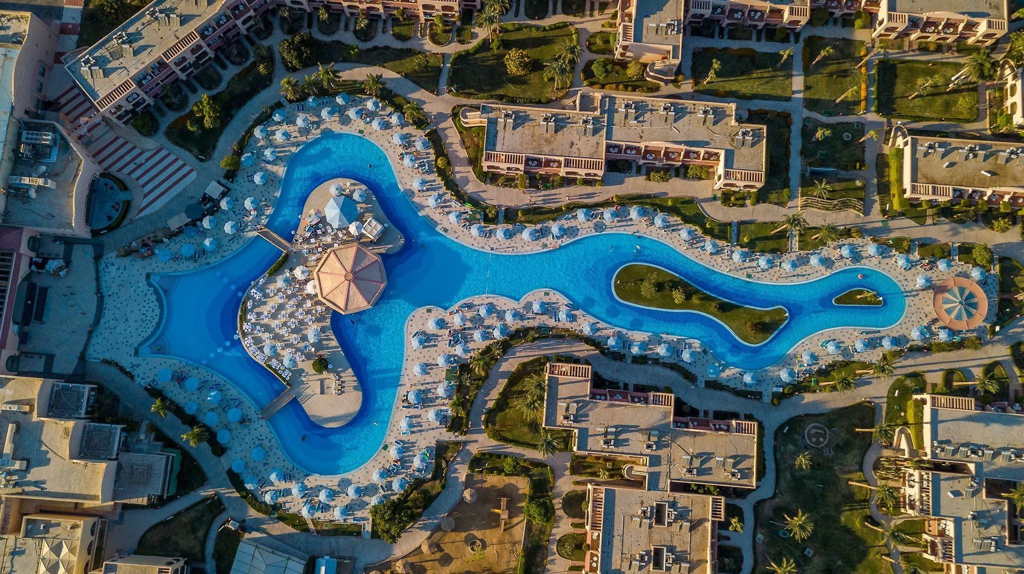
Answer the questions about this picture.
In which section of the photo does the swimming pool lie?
center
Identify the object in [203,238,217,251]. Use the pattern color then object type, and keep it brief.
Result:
blue umbrella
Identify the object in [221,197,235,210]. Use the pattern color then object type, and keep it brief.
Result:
blue umbrella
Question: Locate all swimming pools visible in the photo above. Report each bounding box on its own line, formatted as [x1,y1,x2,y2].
[136,129,909,479]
